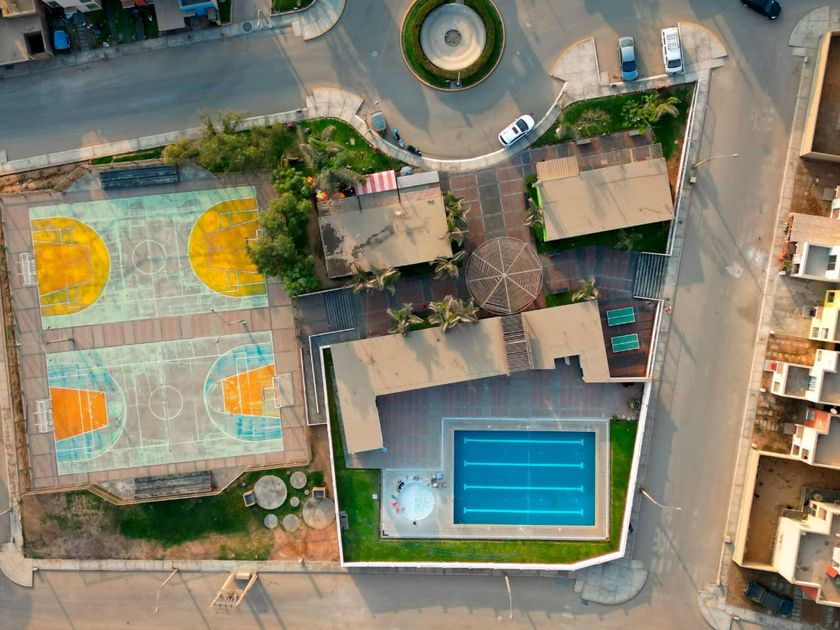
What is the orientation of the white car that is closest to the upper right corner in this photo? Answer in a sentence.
The white car that is closest to the upper right corner has been laid out from top to bottom relative to the frame.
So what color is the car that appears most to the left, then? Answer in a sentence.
The car that appears most to the left is blue.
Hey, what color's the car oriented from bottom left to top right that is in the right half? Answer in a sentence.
The car oriented from bottom left to top right that is in the right half looks white in the image.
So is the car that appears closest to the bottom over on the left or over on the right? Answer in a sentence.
The car that appears closest to the bottom sits on the right side.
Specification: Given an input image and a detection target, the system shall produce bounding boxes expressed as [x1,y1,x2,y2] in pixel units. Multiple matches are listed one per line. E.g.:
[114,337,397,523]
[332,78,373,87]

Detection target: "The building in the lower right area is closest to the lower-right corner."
[775,502,840,607]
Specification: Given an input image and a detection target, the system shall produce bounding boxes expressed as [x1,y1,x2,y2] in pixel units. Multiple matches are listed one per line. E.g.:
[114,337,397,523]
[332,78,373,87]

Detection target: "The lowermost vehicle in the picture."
[743,580,797,614]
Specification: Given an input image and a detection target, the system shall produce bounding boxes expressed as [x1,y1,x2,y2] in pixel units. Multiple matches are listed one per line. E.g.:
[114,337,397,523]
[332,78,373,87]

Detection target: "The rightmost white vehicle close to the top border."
[660,25,684,76]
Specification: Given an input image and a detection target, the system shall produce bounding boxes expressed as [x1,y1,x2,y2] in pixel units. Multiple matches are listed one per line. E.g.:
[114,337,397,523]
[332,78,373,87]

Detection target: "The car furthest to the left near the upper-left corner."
[54,28,74,58]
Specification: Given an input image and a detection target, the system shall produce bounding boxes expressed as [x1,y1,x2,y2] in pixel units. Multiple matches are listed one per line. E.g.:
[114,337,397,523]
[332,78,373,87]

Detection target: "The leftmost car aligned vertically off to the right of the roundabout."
[618,37,640,82]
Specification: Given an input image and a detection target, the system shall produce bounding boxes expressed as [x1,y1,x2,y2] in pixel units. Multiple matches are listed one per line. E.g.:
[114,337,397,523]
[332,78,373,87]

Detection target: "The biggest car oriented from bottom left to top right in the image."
[496,112,536,148]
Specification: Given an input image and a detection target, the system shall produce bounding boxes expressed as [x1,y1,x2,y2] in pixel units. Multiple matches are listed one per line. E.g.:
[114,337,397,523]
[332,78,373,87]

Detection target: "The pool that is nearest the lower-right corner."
[441,418,610,540]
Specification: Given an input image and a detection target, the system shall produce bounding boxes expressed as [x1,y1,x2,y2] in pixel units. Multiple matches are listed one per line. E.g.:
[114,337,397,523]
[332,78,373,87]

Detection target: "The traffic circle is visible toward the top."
[400,0,505,92]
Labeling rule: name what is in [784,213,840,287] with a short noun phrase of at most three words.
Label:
house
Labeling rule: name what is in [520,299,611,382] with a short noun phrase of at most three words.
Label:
building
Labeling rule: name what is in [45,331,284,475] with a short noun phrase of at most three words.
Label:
sports court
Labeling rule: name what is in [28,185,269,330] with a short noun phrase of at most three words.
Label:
sports court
